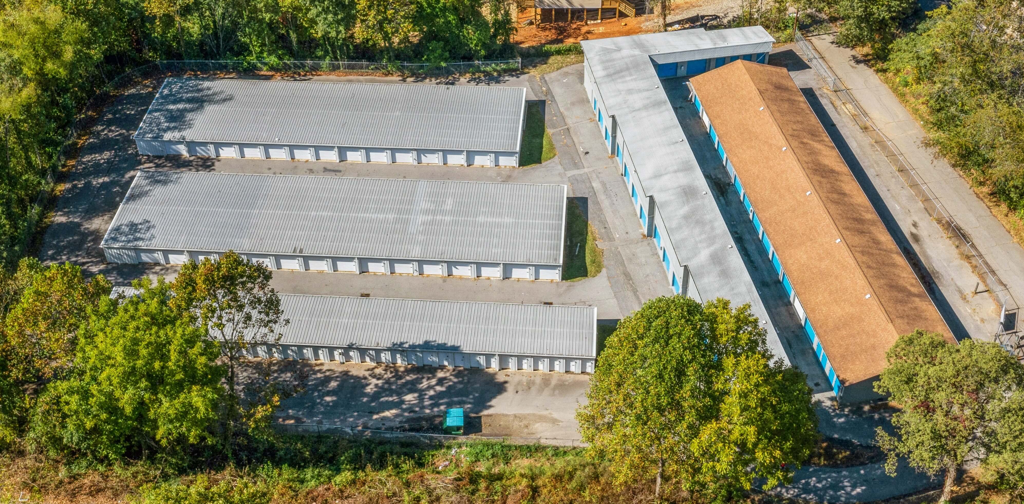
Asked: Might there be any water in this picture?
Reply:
No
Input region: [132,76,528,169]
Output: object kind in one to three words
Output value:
building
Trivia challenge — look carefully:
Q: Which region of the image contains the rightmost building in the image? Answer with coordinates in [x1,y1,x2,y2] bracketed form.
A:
[684,59,961,406]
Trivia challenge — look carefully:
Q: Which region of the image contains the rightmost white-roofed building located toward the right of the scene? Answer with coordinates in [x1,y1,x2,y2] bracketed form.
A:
[580,26,785,352]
